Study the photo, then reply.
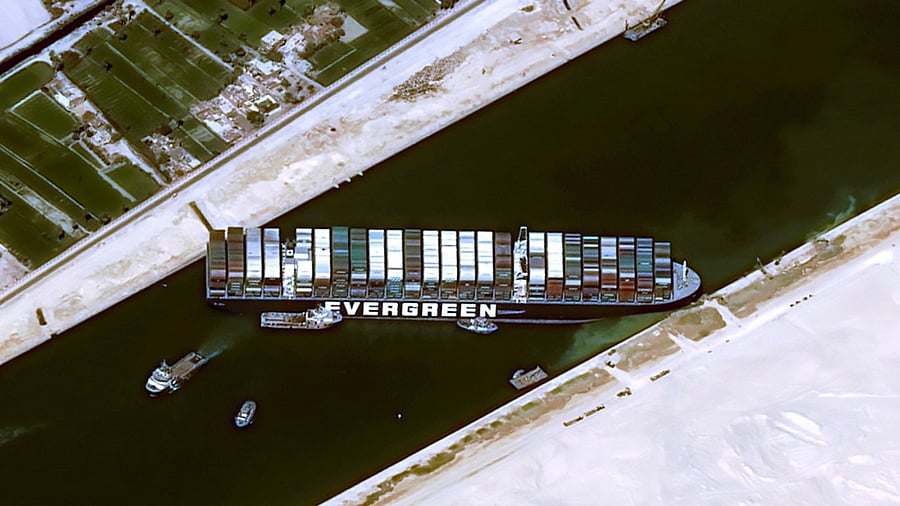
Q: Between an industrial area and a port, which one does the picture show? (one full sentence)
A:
The picture captures a port.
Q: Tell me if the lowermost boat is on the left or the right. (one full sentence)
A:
The lowermost boat sits on the left side.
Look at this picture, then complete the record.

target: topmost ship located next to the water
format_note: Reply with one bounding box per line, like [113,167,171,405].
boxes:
[624,0,664,43]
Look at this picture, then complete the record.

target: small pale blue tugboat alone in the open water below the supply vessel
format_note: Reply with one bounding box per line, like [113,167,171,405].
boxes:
[234,399,258,427]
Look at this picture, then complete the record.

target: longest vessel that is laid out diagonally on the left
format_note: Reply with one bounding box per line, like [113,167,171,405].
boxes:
[147,348,206,390]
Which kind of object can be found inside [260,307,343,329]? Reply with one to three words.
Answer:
ship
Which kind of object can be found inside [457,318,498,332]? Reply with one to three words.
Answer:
boat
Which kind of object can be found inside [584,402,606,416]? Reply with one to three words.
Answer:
vehicle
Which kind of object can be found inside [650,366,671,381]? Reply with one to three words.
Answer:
vehicle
